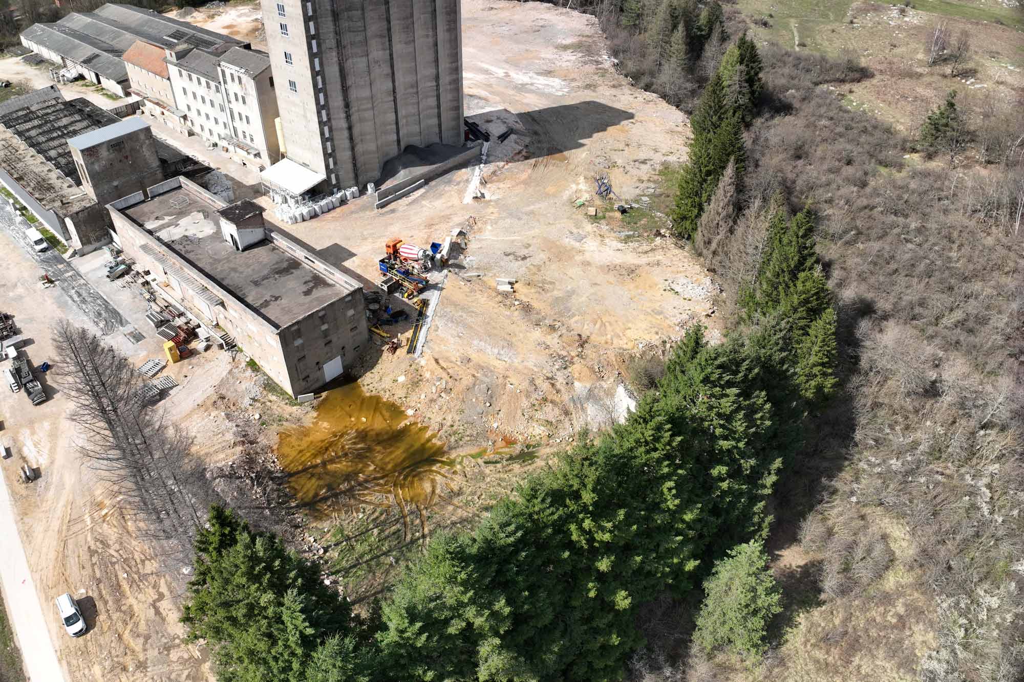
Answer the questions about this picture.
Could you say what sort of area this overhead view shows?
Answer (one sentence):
The area seen from above is an industrial area.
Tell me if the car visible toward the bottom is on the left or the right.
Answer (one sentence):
The car visible toward the bottom appears in the left half of the scene.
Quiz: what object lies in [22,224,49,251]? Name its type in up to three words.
vehicle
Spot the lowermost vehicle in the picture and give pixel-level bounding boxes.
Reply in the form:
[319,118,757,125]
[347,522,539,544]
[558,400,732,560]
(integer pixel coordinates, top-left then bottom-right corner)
[55,591,95,645]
